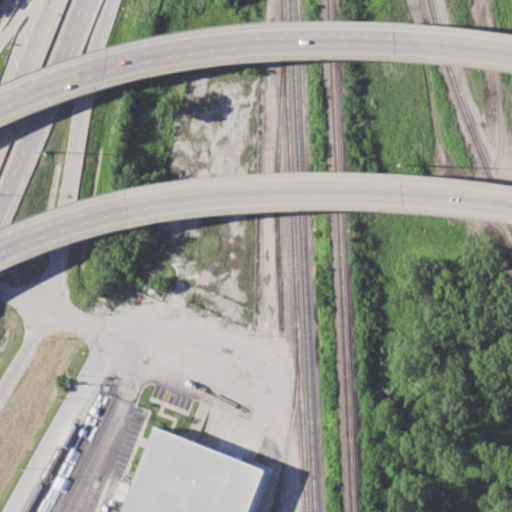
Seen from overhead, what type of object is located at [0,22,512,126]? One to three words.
overpass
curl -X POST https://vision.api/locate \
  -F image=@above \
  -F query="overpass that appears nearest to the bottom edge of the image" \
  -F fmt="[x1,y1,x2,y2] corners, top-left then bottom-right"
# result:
[0,173,512,270]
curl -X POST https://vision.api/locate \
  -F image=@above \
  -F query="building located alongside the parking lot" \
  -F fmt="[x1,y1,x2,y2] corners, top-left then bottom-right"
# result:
[119,426,265,512]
